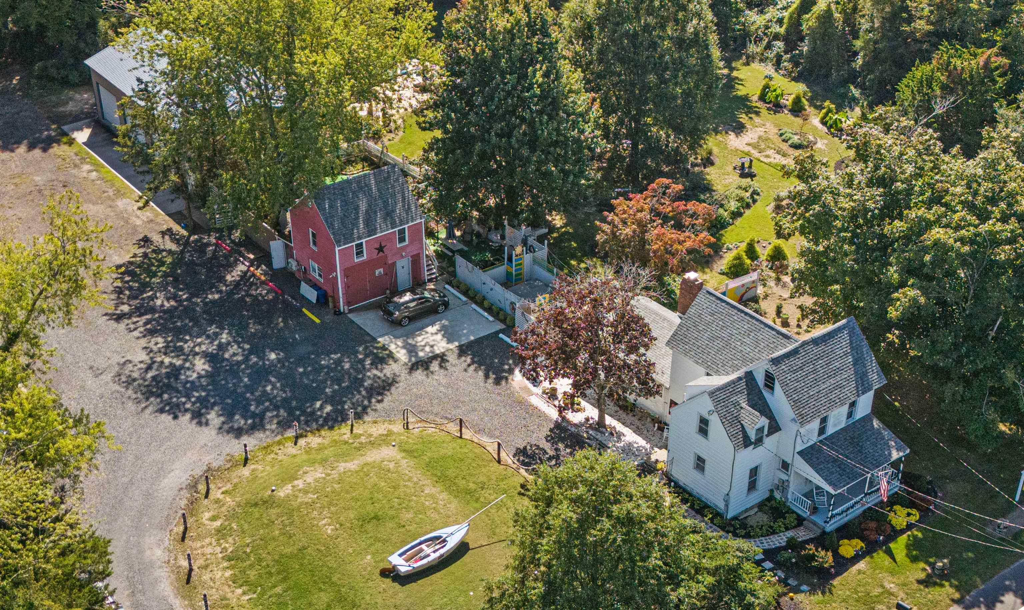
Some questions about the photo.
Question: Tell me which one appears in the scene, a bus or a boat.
boat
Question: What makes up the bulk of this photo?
trees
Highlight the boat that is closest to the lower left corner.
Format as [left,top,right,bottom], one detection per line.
[377,494,501,576]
